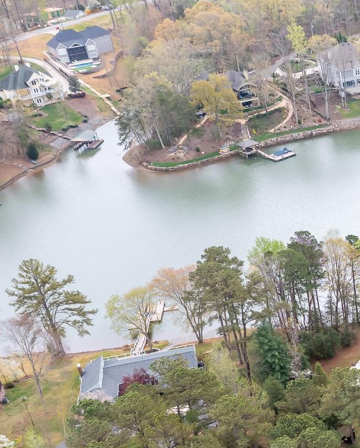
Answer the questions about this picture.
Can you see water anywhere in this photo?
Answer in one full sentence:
Yes, water can be seen from above here.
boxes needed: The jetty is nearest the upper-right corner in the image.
[238,138,296,162]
